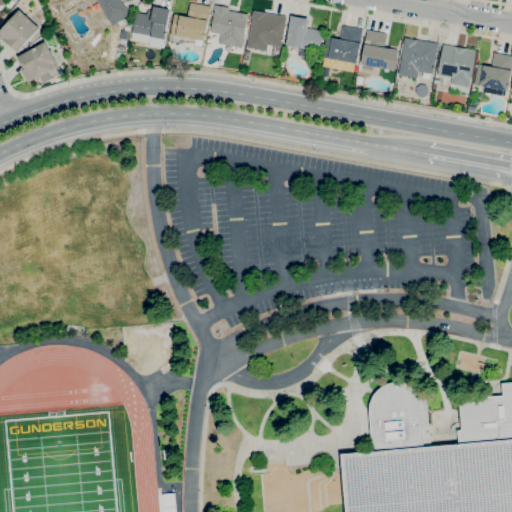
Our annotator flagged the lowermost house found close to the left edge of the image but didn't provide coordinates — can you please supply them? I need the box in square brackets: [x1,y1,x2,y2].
[17,40,58,83]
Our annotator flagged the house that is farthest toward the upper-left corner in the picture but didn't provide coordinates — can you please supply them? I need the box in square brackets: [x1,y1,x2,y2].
[0,8,37,51]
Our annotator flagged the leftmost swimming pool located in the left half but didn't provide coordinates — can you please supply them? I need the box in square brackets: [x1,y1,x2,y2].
[68,12,90,37]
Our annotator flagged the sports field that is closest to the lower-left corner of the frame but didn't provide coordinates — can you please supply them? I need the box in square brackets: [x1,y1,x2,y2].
[0,404,140,512]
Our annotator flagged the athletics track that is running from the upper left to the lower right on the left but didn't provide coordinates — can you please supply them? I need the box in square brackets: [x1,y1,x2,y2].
[0,344,160,512]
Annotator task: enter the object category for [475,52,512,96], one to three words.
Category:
house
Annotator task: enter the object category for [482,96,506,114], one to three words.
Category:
swimming pool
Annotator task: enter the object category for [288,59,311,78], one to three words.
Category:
swimming pool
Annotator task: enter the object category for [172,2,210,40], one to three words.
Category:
house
